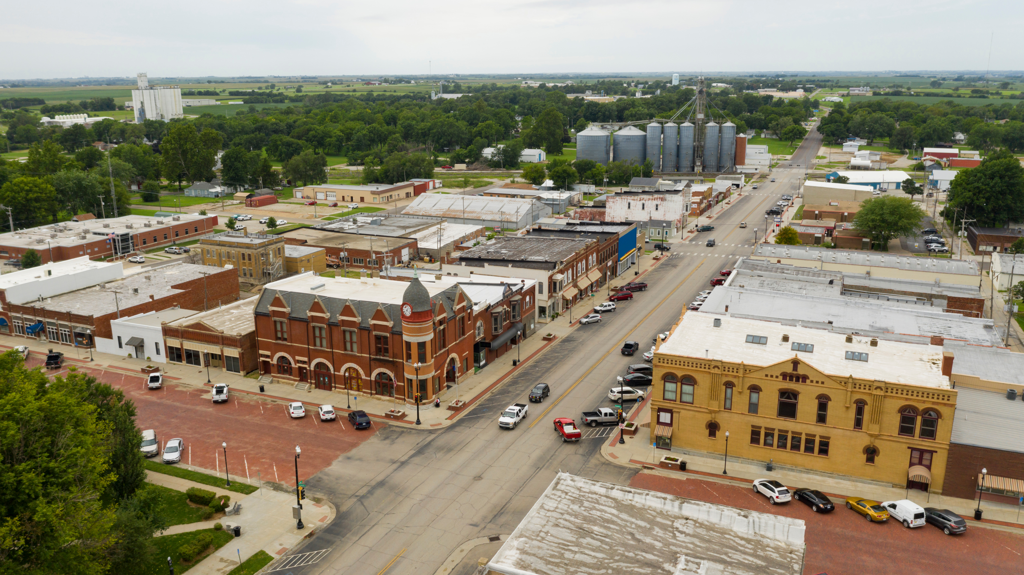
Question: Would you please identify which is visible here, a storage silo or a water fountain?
storage silo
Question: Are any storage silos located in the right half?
Yes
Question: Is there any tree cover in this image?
Yes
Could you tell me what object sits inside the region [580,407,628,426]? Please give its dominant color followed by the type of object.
gray vehicle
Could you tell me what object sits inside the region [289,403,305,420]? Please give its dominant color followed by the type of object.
white car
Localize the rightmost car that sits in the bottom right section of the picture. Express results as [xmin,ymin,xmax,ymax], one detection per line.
[923,508,971,538]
